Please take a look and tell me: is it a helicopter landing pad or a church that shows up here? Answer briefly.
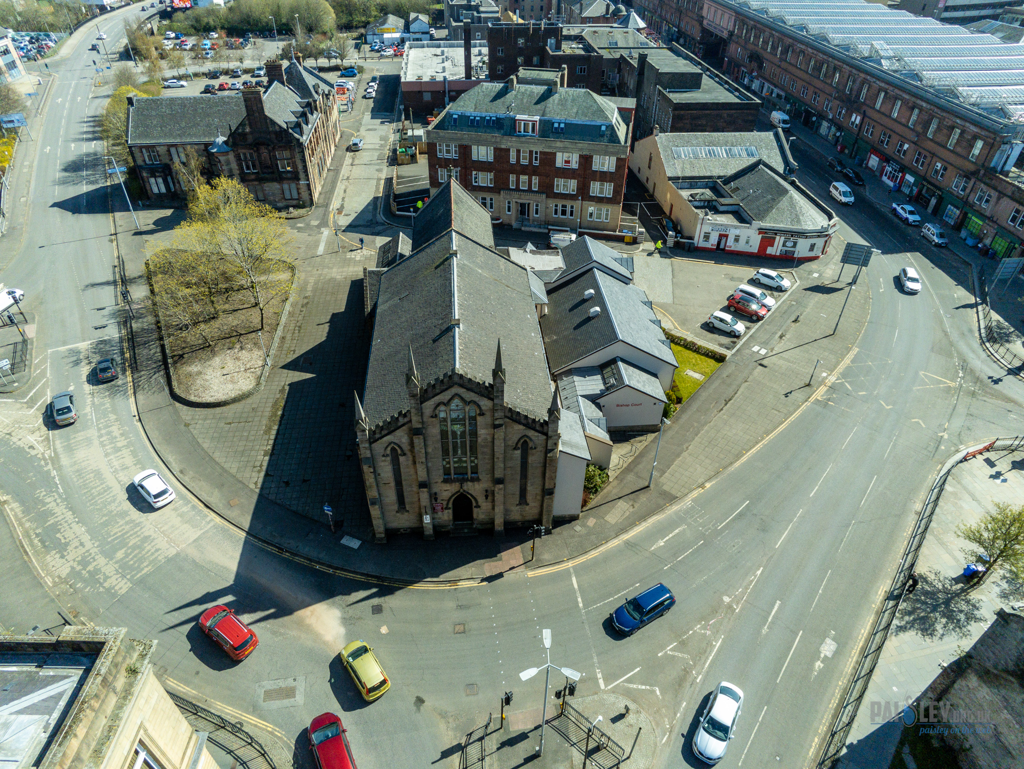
church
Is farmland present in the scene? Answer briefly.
No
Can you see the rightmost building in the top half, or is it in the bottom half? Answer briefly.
bottom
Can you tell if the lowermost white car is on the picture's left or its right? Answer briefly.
right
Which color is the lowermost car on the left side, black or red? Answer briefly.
red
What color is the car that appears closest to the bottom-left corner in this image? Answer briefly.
red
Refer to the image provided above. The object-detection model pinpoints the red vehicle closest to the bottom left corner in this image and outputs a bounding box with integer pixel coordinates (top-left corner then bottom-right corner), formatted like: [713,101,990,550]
[196,602,261,661]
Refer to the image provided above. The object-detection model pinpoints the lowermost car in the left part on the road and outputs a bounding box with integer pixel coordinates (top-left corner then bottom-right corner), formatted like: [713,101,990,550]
[302,707,358,769]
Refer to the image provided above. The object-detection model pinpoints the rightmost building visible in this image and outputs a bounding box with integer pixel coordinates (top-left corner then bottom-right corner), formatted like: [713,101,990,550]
[893,592,1024,769]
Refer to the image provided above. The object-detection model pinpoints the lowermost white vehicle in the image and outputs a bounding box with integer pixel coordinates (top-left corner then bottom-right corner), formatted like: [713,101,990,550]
[693,673,750,761]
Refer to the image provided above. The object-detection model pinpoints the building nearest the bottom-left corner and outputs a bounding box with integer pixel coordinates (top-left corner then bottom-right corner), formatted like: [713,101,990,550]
[0,626,232,769]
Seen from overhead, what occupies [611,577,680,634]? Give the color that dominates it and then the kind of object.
blue car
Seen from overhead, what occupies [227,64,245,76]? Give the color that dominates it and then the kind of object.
gray vehicle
